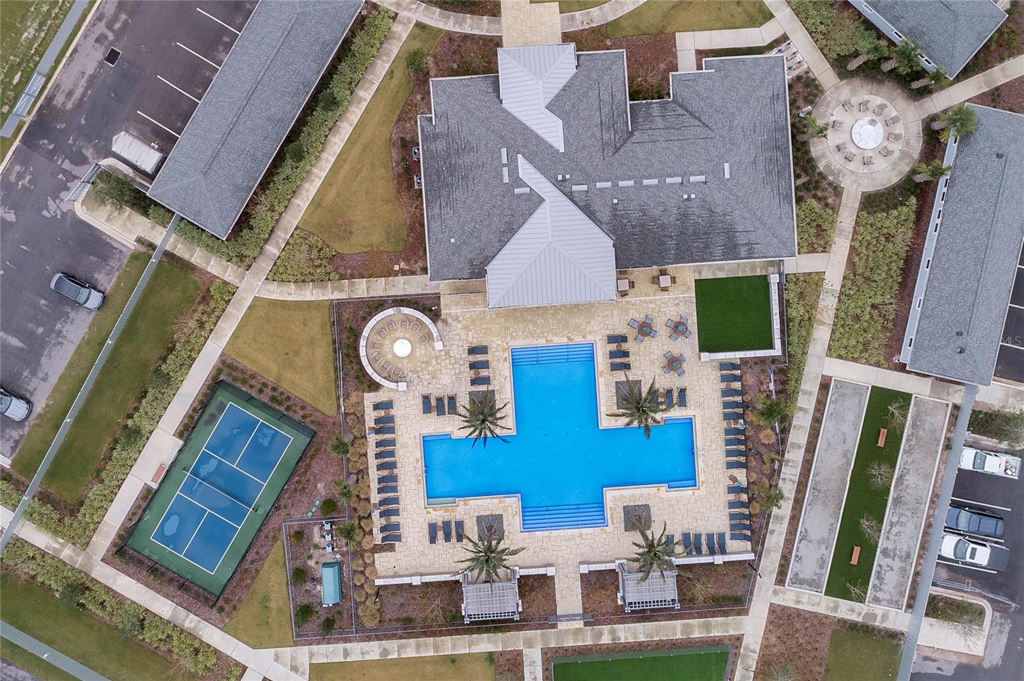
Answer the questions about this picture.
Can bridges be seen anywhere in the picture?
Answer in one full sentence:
No, the picture doesn't show any bridge.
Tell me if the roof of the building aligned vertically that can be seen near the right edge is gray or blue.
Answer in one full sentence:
The roof of the building aligned vertically that can be seen near the right edge is gray.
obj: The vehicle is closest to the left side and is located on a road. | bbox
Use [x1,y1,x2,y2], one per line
[0,384,31,421]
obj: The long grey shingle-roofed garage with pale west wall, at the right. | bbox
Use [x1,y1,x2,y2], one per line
[898,105,1024,388]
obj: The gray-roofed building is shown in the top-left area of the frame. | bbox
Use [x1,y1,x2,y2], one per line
[148,0,368,239]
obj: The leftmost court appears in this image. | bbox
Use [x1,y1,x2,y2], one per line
[125,384,309,598]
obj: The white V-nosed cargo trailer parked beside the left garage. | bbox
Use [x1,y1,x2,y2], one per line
[101,132,160,171]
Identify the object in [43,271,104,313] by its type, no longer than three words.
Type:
car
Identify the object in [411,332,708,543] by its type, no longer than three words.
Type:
swimming pool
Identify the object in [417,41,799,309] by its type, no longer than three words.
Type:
building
